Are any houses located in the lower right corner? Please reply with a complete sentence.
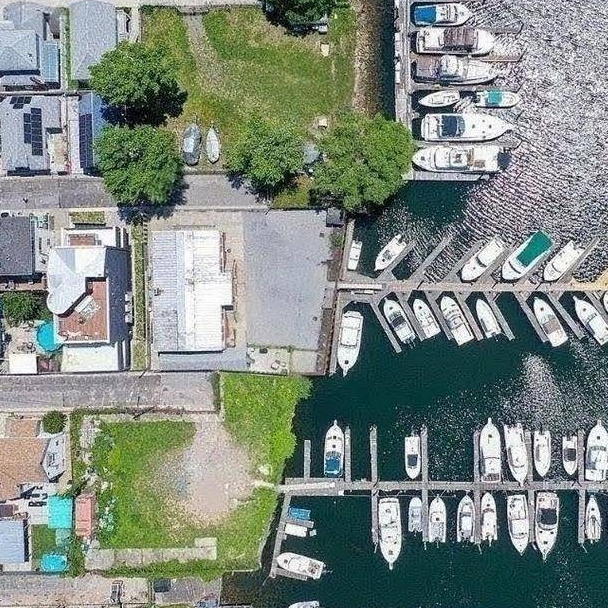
No, the scene shows no house in the lower right corner.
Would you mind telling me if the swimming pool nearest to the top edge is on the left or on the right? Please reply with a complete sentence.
It is on the left.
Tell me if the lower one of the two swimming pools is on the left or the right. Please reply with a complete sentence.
The lower one of the two swimming pools sits on the left side.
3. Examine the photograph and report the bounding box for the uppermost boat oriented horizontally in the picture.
[413,2,474,26]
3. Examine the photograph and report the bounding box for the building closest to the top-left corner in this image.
[0,4,48,75]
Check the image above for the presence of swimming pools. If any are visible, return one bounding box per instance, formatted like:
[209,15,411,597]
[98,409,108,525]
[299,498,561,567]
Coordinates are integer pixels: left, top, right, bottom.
[41,552,69,572]
[34,323,61,351]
